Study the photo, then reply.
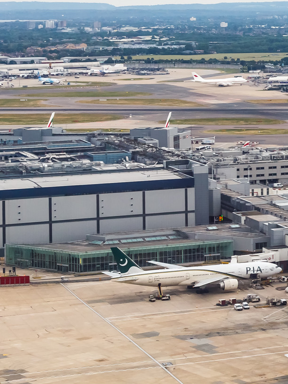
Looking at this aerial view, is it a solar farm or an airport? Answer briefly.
airport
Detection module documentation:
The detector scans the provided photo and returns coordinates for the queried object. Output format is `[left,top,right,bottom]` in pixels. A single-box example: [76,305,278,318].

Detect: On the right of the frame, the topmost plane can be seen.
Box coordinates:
[190,70,247,85]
